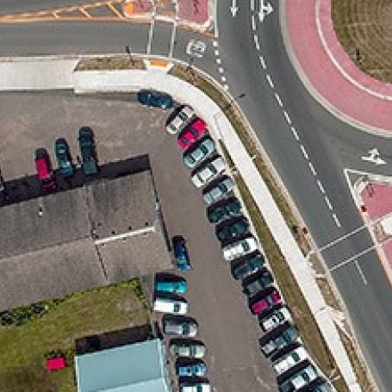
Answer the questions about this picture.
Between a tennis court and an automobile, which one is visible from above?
automobile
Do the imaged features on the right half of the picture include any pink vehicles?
Yes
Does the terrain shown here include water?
No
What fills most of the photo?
paved ground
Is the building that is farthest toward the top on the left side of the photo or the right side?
left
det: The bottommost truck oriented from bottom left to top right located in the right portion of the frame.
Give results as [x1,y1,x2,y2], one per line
[276,362,319,392]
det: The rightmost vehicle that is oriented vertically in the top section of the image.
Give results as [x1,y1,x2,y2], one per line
[76,128,98,176]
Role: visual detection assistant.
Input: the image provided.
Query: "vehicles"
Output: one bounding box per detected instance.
[276,362,319,392]
[235,268,279,299]
[33,152,56,188]
[176,360,208,377]
[53,140,74,177]
[137,89,172,109]
[170,236,190,270]
[214,218,250,241]
[155,279,186,295]
[257,323,302,355]
[271,346,308,374]
[76,128,98,176]
[257,306,292,332]
[206,197,241,222]
[220,237,260,261]
[163,318,197,335]
[174,118,208,151]
[200,177,235,204]
[163,103,196,136]
[181,138,215,167]
[229,254,265,279]
[191,157,225,185]
[169,341,205,359]
[303,381,327,392]
[177,379,214,392]
[247,288,283,314]
[152,296,187,314]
